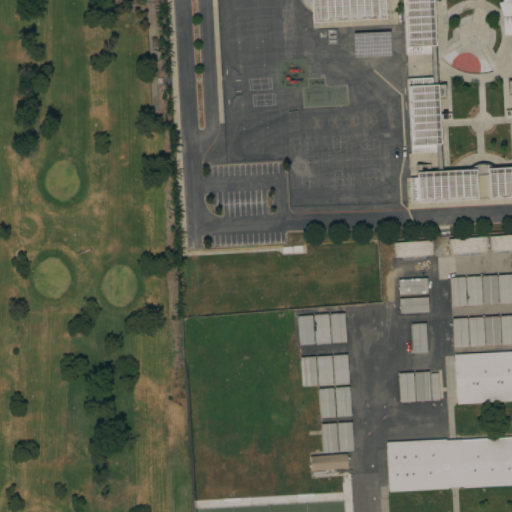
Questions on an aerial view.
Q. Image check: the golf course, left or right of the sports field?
left of it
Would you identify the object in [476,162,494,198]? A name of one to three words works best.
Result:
building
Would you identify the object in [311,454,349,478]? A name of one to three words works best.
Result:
building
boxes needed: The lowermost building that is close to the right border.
[388,436,512,492]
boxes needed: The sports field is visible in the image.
[184,310,350,512]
